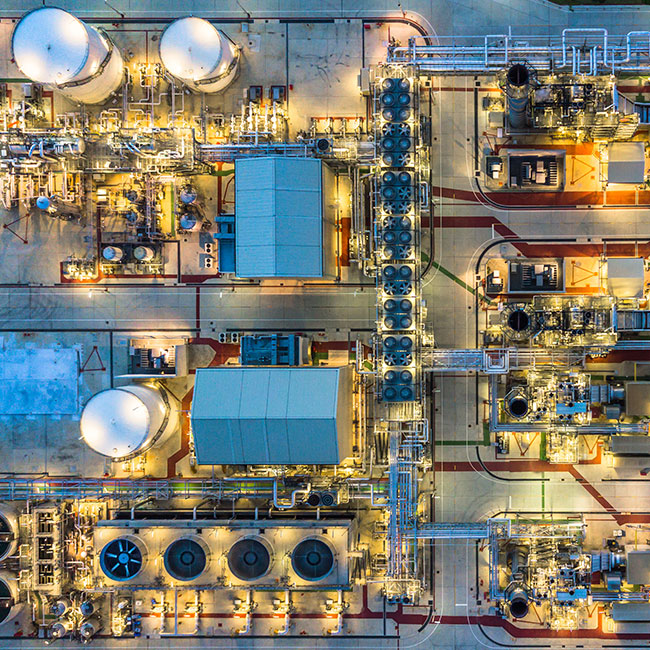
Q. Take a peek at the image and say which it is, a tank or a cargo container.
tank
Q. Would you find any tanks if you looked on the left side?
Yes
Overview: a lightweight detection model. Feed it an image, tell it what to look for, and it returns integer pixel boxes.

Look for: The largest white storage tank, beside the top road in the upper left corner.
[9,5,125,106]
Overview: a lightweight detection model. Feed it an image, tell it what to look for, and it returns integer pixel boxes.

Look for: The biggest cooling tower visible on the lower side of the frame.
[90,493,372,590]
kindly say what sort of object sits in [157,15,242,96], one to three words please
storage tank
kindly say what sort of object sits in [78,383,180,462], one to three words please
storage tank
